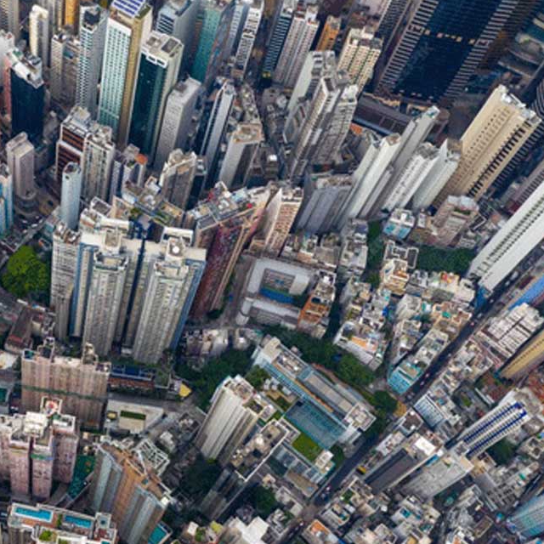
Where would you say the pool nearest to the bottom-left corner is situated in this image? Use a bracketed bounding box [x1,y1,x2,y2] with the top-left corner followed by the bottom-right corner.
[11,503,46,518]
